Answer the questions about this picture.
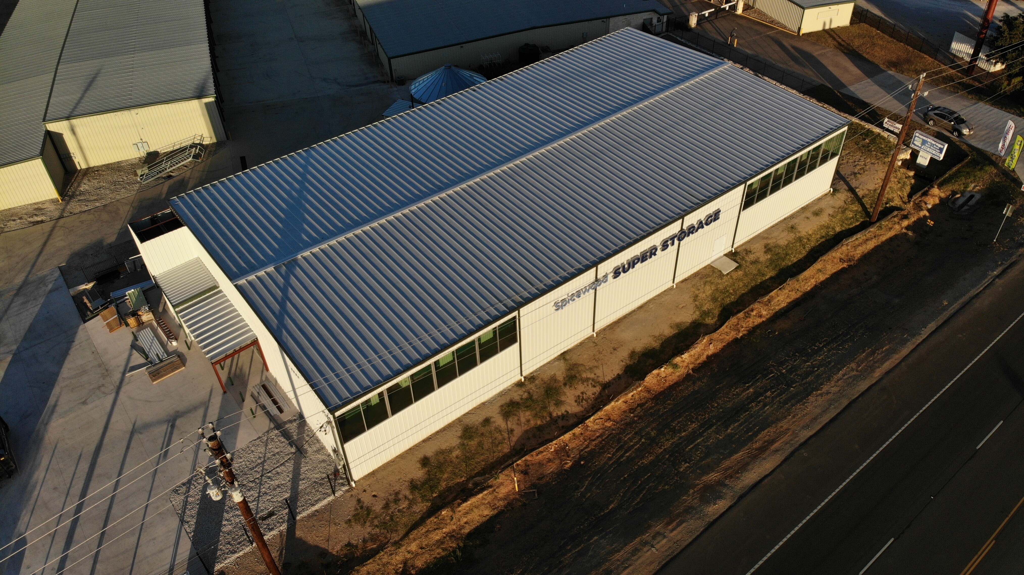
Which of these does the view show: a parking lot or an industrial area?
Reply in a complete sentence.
The picture captures an industrial area.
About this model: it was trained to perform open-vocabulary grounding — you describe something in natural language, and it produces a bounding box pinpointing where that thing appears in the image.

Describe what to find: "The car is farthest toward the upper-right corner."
[925,106,977,137]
